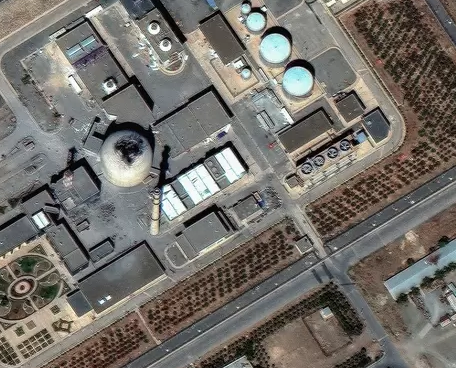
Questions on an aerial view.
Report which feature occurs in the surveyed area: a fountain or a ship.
fountain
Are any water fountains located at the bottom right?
No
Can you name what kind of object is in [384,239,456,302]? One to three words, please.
building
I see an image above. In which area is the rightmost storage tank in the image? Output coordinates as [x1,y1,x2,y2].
[280,66,314,103]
